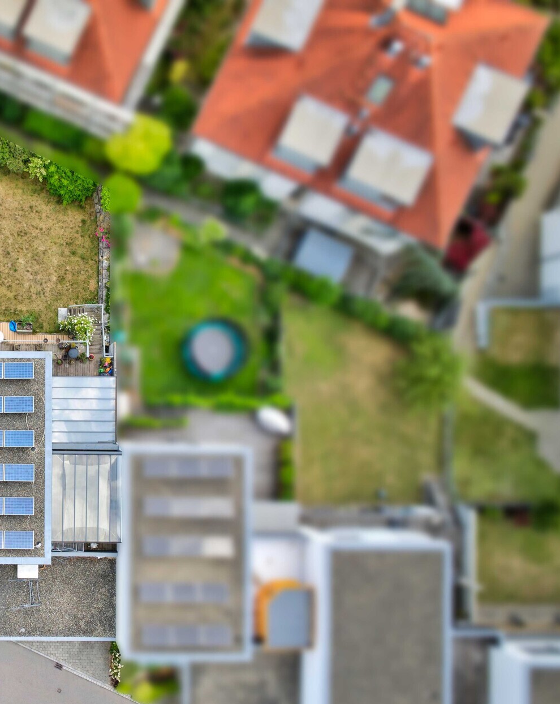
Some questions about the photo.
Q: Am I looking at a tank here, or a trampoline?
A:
trampoline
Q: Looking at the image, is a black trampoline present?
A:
No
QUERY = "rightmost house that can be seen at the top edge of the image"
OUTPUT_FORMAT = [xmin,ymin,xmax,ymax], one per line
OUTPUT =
[191,0,548,252]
